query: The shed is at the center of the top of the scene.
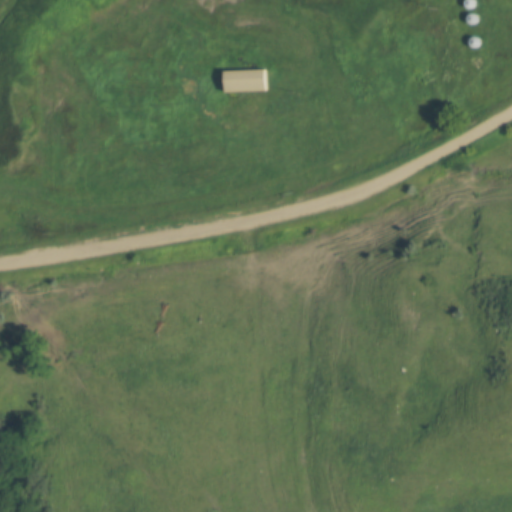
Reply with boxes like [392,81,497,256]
[224,68,268,93]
